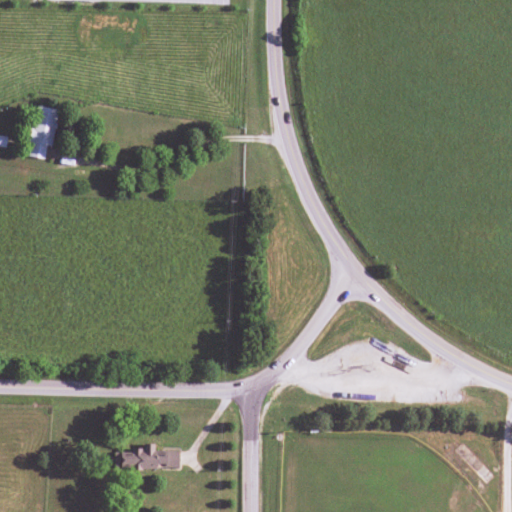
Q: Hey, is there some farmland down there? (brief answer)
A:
Yes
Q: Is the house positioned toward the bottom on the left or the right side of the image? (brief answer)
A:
left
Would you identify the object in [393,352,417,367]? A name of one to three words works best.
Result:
vehicle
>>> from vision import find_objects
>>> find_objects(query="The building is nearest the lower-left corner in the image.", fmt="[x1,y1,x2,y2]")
[116,444,180,472]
